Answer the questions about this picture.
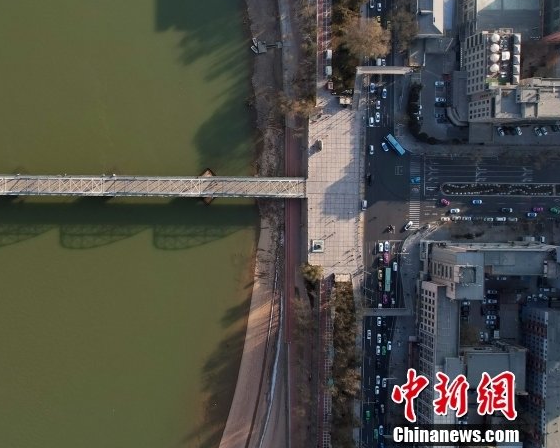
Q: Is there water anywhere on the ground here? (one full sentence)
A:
Yes, water shows up in the scene.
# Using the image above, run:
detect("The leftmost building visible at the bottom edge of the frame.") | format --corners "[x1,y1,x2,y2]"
[417,278,466,448]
